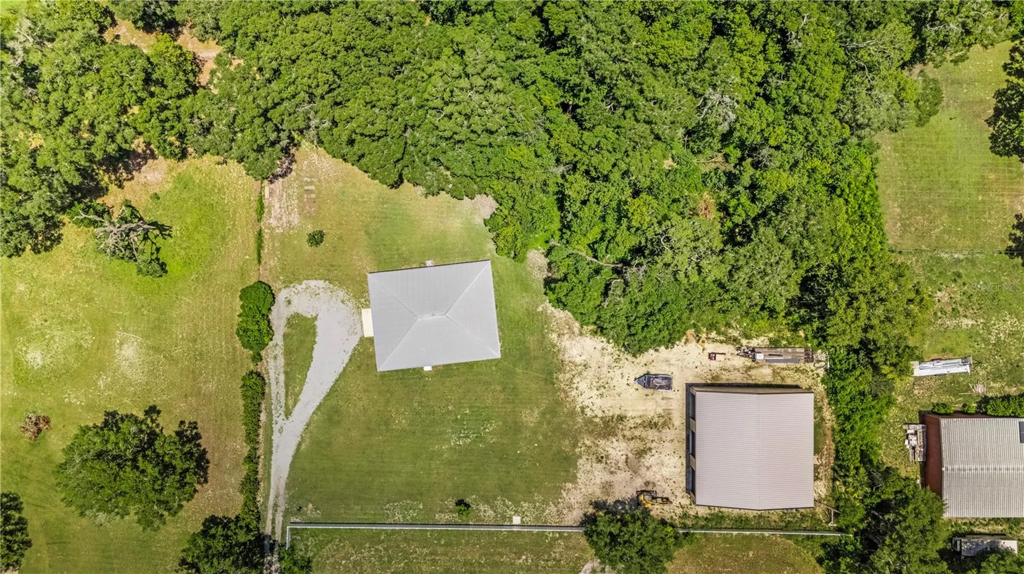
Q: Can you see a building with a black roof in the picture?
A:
No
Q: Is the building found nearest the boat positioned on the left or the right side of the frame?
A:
right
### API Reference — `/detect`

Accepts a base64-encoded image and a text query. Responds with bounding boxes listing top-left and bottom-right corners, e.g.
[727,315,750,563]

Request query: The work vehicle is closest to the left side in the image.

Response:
[637,491,671,507]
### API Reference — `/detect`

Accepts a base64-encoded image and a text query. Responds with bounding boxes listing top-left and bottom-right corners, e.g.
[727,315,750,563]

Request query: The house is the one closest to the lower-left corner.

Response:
[368,260,501,372]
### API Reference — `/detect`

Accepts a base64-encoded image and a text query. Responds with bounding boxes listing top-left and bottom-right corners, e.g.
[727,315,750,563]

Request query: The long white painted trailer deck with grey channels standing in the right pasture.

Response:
[914,357,984,376]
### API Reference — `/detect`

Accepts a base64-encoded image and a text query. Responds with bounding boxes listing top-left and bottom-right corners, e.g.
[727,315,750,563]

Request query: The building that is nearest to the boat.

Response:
[685,387,814,510]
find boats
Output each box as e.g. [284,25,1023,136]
[635,375,672,391]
